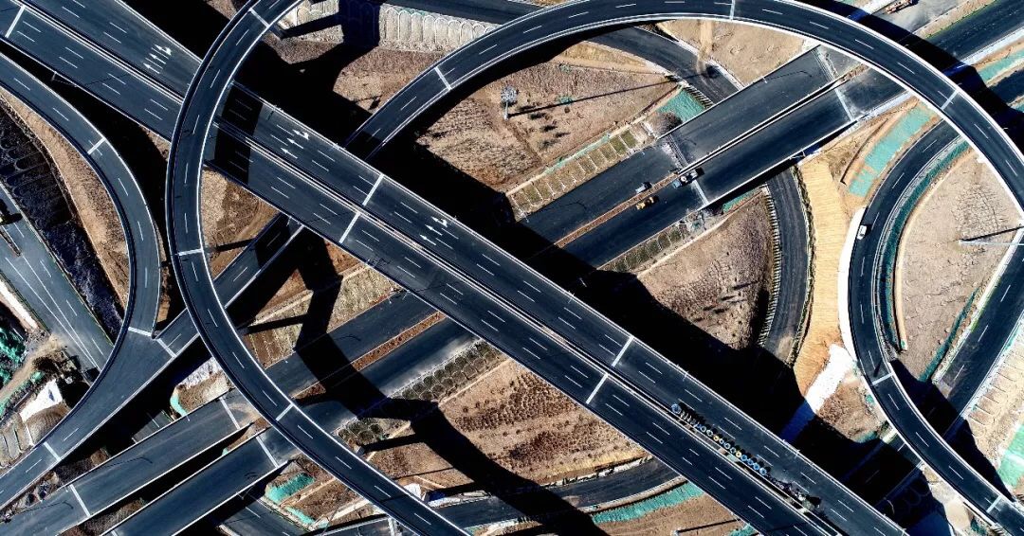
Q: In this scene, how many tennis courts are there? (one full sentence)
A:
There are no tennis courts in this view.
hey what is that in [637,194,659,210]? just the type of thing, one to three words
work vehicle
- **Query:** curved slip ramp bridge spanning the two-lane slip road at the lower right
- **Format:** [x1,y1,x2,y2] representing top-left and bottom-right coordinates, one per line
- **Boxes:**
[870,372,1024,536]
